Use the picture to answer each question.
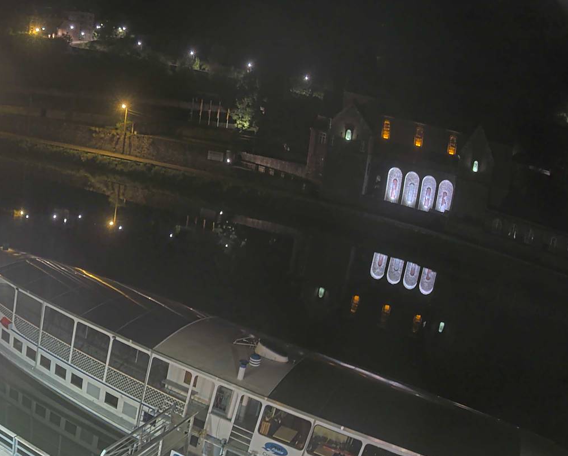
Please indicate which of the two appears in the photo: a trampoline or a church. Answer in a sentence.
Visible in the photo is a church.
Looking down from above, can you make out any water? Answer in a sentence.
Yes, there's water in this view.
